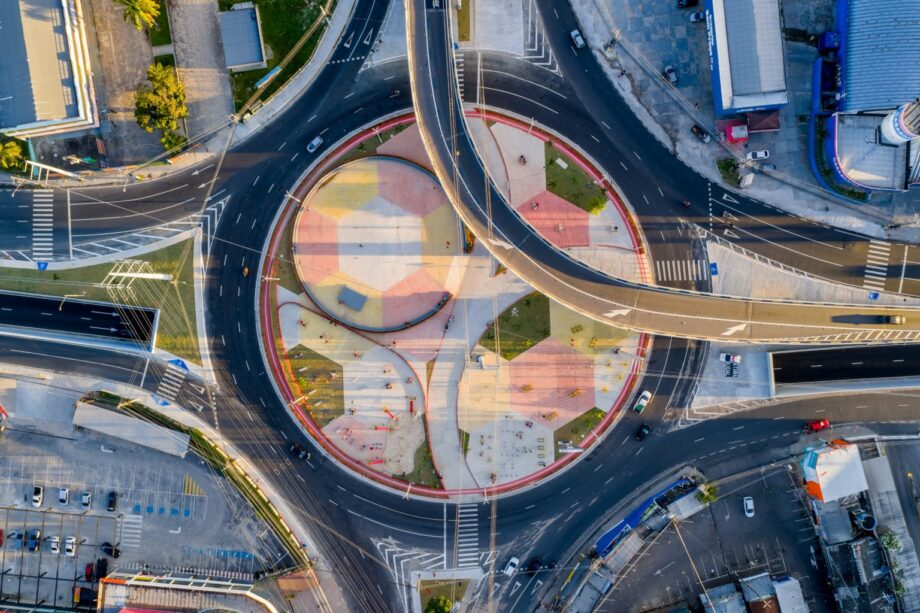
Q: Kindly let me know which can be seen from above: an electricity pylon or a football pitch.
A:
electricity pylon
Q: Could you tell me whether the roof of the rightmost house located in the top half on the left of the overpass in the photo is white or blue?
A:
blue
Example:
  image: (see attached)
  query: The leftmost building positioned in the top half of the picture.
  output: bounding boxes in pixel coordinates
[0,0,102,145]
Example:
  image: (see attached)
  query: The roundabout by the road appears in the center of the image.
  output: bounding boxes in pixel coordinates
[255,102,655,502]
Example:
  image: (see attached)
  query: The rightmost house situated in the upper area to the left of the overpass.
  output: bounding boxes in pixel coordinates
[221,2,270,73]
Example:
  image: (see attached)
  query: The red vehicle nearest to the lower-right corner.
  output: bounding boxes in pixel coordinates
[804,419,830,433]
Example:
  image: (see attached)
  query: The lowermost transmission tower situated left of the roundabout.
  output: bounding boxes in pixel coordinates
[104,253,175,289]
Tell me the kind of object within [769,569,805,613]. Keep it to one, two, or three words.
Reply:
house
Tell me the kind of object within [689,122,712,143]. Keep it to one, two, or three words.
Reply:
vehicle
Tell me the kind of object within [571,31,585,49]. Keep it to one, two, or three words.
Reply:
car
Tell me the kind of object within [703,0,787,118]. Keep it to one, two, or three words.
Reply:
building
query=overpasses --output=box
[405,0,920,342]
